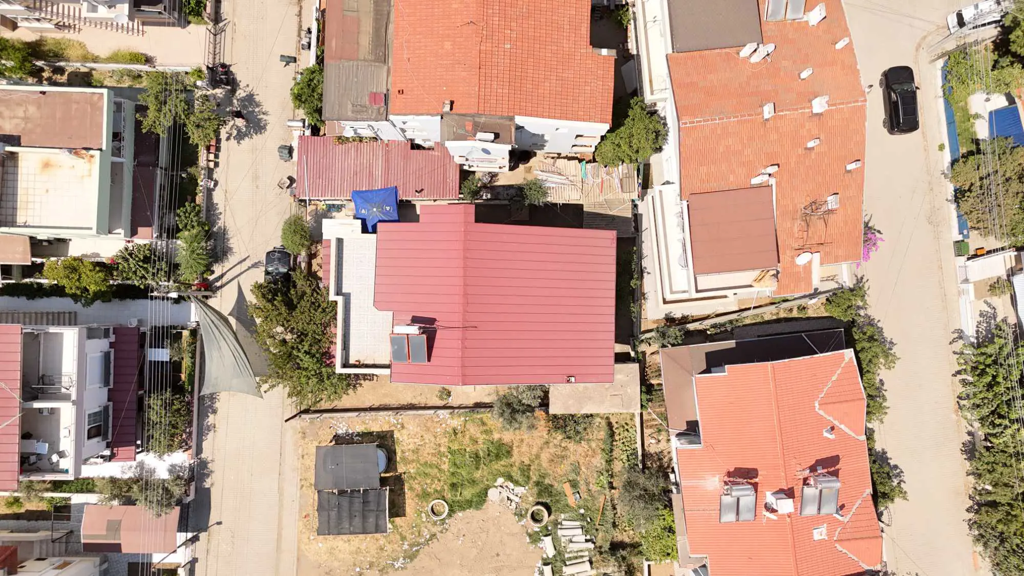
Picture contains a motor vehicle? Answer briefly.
Yes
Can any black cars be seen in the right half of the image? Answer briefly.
Yes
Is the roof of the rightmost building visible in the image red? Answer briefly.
No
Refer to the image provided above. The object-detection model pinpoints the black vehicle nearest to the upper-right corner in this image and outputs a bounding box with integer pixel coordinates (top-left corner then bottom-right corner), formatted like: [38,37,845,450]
[876,69,918,138]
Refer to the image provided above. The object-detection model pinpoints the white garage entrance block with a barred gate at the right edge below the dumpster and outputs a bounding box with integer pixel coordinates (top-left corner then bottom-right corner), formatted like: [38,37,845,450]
[948,250,1017,284]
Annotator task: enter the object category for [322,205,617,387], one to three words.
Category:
house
